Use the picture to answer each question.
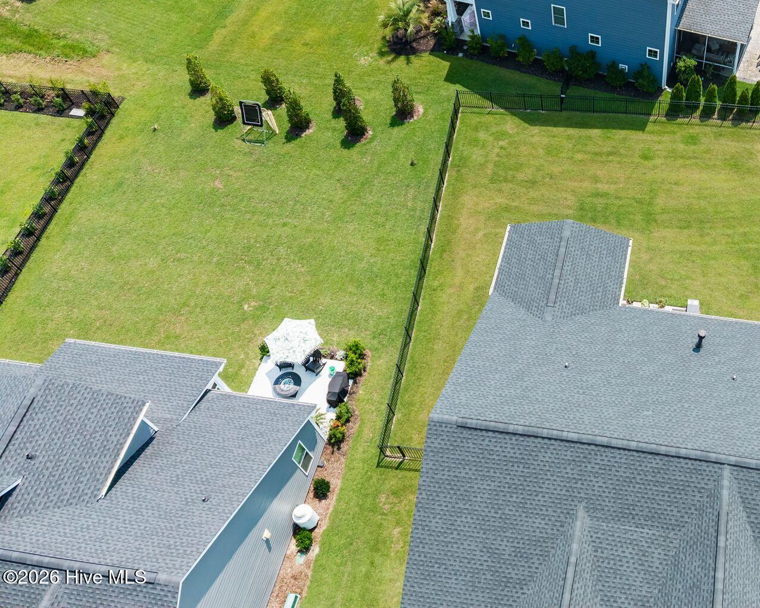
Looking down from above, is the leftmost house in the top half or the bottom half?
bottom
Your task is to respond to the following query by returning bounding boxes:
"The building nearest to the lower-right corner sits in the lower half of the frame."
[397,221,760,608]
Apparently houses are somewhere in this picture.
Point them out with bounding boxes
[397,221,760,608]
[438,0,758,90]
[0,339,326,608]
